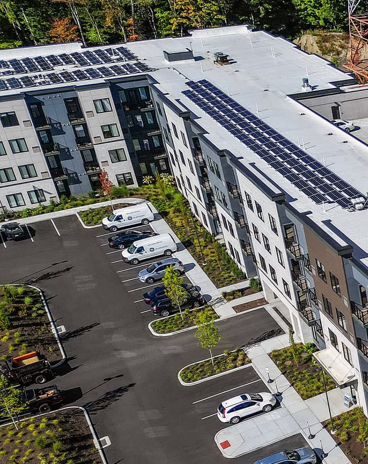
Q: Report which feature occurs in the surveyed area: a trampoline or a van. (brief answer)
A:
van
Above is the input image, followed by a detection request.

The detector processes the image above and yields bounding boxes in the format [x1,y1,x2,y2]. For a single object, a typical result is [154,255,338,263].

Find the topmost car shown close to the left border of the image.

[0,221,24,241]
